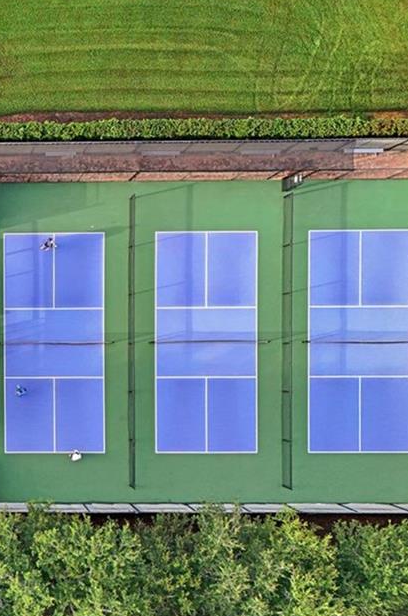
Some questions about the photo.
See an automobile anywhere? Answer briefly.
No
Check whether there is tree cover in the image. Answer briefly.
Yes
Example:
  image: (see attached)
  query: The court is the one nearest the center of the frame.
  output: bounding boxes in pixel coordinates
[156,231,257,453]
